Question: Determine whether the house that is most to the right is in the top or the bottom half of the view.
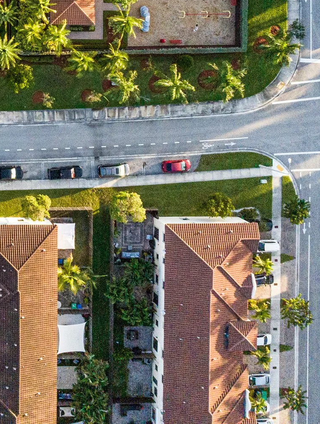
bottom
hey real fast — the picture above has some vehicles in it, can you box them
[250,398,275,413]
[255,273,278,287]
[249,372,272,388]
[258,332,273,347]
[96,162,129,178]
[255,239,282,253]
[47,165,82,180]
[0,165,23,181]
[159,159,191,173]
